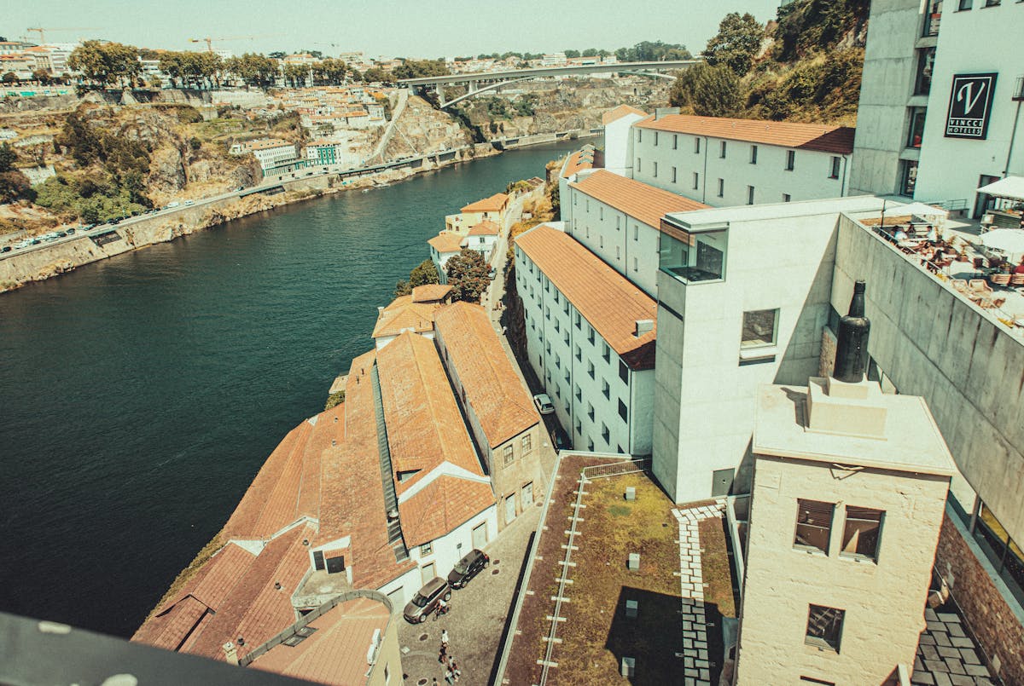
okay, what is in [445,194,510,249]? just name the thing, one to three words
house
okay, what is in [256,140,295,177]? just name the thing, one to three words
building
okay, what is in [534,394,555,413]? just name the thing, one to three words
car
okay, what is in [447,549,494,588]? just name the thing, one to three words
car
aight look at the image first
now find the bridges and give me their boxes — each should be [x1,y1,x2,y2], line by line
[383,60,707,111]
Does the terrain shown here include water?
Yes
